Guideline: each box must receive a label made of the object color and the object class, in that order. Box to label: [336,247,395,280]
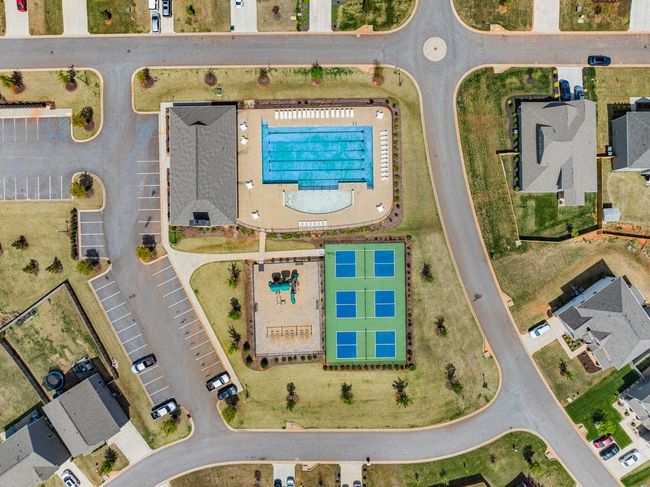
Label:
blue sports court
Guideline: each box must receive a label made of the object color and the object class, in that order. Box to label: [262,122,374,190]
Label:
blue swimming pool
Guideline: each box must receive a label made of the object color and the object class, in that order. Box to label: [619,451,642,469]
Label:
white car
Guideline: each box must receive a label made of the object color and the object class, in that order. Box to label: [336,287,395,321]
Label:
blue sports court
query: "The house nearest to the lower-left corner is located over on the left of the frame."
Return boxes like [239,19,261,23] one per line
[0,419,69,487]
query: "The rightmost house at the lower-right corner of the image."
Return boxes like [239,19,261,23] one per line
[621,377,650,444]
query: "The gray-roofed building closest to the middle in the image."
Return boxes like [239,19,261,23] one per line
[169,105,238,227]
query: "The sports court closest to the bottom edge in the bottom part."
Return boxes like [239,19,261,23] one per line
[336,328,396,361]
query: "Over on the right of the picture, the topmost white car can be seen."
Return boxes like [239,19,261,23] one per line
[529,322,552,339]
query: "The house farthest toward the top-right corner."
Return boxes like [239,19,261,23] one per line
[614,98,650,175]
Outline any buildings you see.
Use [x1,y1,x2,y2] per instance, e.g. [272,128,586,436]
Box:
[621,377,650,444]
[517,97,597,206]
[602,208,621,222]
[42,374,127,459]
[169,105,238,227]
[0,419,69,487]
[554,277,650,377]
[614,98,650,175]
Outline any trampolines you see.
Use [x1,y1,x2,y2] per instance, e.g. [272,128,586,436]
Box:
[46,371,65,387]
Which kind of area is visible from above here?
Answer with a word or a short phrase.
residential area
